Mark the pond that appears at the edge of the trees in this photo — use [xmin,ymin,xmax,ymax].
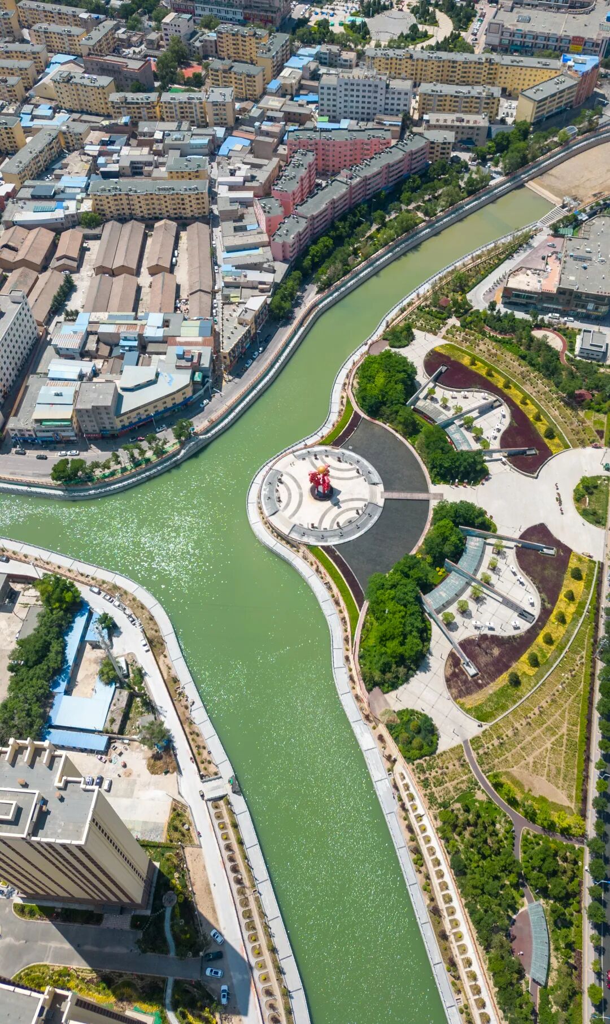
[333,419,429,589]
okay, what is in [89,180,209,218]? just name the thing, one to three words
building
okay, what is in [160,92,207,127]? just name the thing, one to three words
building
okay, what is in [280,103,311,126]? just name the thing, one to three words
house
